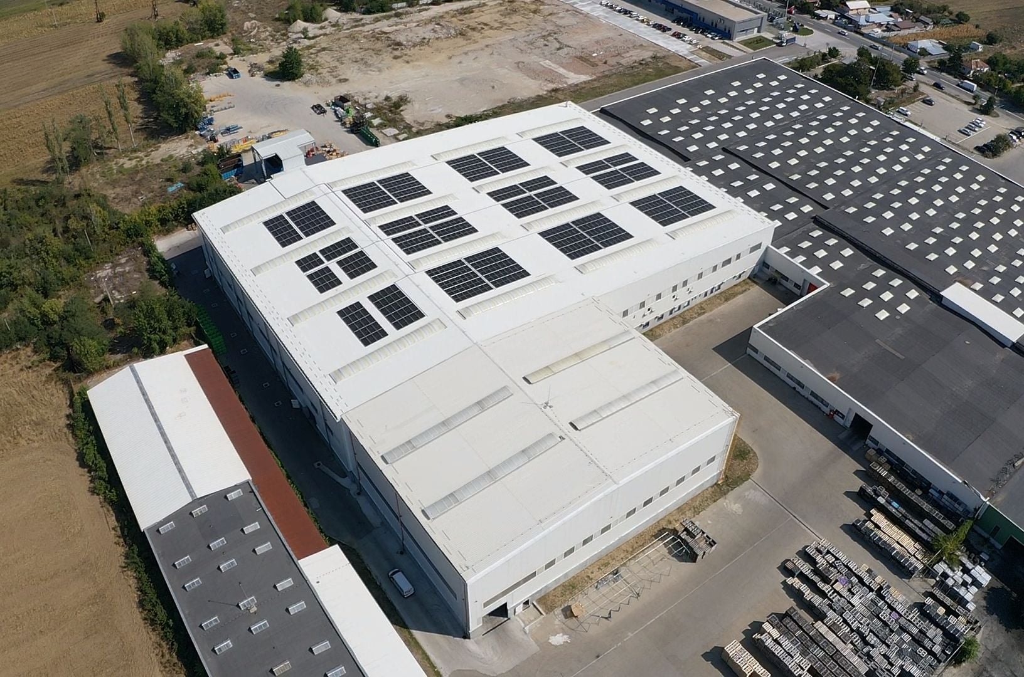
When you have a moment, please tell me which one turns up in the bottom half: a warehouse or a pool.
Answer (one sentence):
The one visible in the bottom half is a warehouse.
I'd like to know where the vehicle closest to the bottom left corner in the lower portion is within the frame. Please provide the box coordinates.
[385,567,412,598]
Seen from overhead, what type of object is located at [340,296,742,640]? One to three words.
warehouse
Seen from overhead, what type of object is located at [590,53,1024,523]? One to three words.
building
